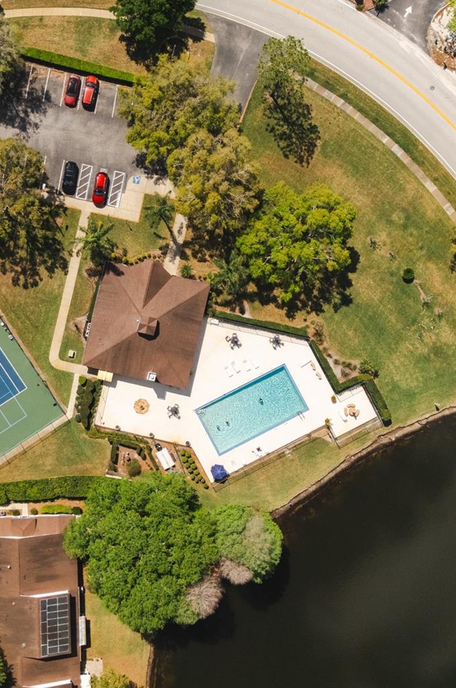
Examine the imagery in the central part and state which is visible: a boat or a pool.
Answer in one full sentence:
There is a pool in the central part.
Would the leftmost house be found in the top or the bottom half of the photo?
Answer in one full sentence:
The bottom half of the photo is where the leftmost house is.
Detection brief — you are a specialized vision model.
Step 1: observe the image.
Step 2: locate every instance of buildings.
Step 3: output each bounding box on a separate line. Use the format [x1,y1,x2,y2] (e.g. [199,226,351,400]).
[83,259,209,388]
[0,516,80,688]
